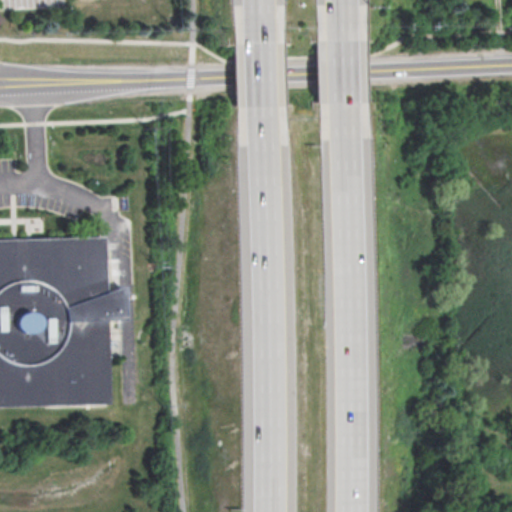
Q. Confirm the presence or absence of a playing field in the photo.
No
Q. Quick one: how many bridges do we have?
2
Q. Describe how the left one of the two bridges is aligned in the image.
from top to bottom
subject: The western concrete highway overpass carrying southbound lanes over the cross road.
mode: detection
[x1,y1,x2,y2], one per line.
[233,4,290,146]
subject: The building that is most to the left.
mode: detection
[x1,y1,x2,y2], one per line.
[0,237,132,408]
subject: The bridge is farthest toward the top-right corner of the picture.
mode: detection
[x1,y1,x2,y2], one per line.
[314,4,372,146]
